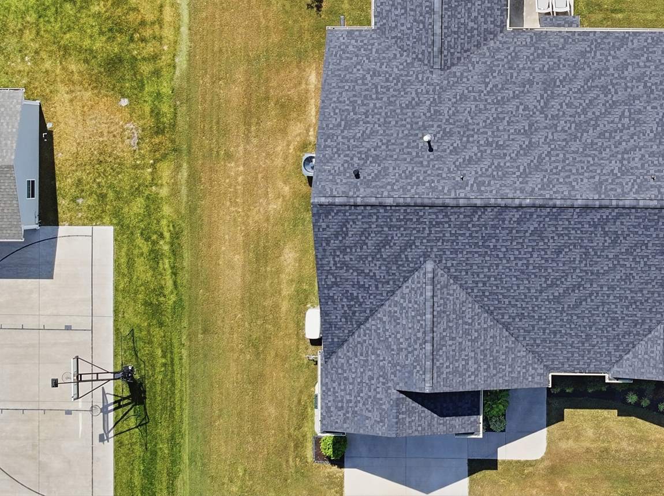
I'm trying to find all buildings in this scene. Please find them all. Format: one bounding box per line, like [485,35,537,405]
[311,0,664,437]
[0,88,46,242]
